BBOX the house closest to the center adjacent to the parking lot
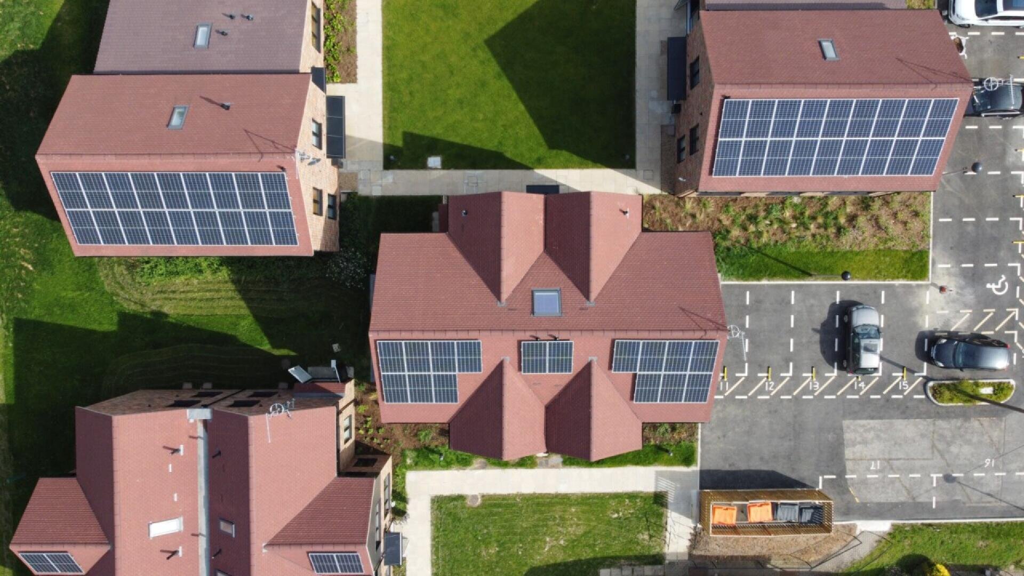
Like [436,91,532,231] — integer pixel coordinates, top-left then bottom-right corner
[369,185,751,462]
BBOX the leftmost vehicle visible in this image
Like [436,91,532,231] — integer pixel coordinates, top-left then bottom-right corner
[839,305,882,377]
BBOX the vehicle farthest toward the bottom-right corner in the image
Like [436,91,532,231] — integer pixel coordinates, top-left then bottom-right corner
[925,336,1012,375]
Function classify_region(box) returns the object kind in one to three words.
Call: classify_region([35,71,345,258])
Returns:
house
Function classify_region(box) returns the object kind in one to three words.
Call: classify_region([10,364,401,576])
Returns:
house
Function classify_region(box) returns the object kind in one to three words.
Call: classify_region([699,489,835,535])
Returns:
building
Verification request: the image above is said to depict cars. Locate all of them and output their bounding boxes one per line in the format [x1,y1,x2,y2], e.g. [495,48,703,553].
[967,83,1024,121]
[839,305,882,377]
[925,336,1012,375]
[943,0,1024,31]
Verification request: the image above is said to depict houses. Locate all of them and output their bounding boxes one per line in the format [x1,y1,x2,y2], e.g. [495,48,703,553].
[35,71,345,258]
[10,364,401,576]
[369,185,751,462]
[666,8,1015,197]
